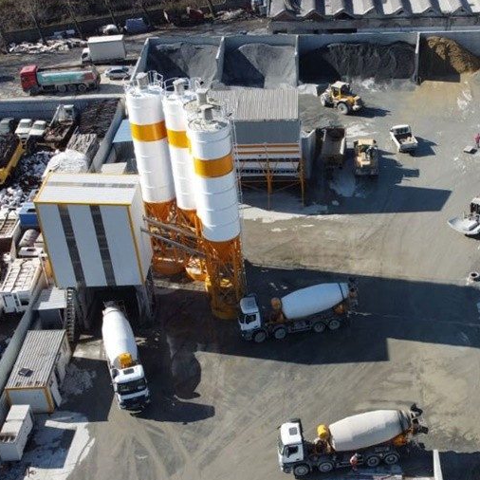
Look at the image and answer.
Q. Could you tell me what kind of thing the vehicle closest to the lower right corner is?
truck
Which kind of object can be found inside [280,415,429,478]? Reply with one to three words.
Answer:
truck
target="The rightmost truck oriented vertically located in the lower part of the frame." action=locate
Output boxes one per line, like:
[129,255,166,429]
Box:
[94,301,149,408]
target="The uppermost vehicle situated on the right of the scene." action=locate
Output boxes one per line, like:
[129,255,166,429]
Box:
[308,77,369,114]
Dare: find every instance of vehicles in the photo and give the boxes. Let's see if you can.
[239,279,361,338]
[391,128,418,154]
[94,301,149,408]
[437,198,480,247]
[11,119,34,139]
[33,100,78,151]
[0,116,18,140]
[19,68,95,96]
[100,62,132,76]
[351,135,380,177]
[316,123,345,175]
[68,31,134,65]
[308,77,369,114]
[280,415,429,478]
[24,121,49,141]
